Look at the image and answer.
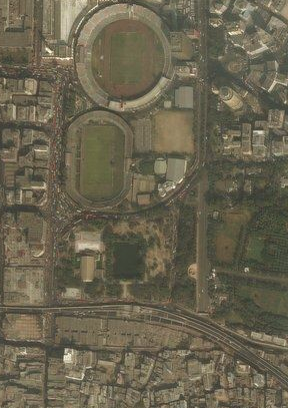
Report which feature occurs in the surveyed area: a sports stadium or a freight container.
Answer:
sports stadium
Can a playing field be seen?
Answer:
Yes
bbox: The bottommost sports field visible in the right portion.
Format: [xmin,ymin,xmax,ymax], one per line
[151,109,195,155]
